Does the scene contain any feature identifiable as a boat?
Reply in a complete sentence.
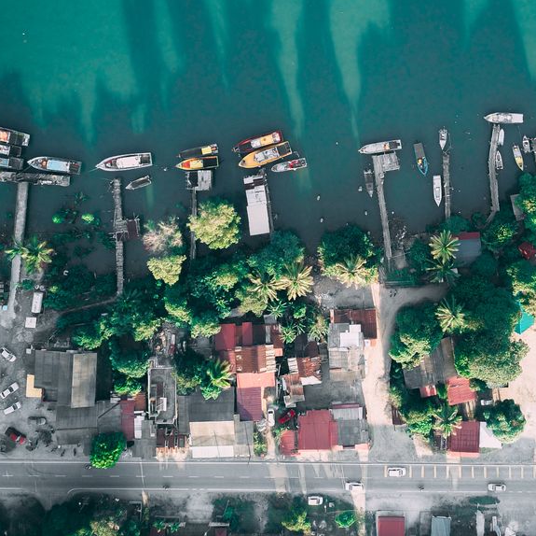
Yes, I can see a boat in this picture.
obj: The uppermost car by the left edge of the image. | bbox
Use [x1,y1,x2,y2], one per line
[0,346,17,360]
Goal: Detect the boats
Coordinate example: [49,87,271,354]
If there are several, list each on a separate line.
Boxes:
[171,145,219,162]
[355,139,402,155]
[522,136,531,154]
[484,113,523,124]
[512,145,523,170]
[92,153,154,172]
[414,143,428,176]
[495,147,503,169]
[0,127,30,146]
[498,127,505,145]
[434,176,442,210]
[168,157,219,170]
[365,169,374,197]
[232,141,294,166]
[0,157,25,171]
[0,143,23,157]
[270,156,308,171]
[231,130,284,153]
[439,130,447,157]
[24,158,83,177]
[124,176,153,189]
